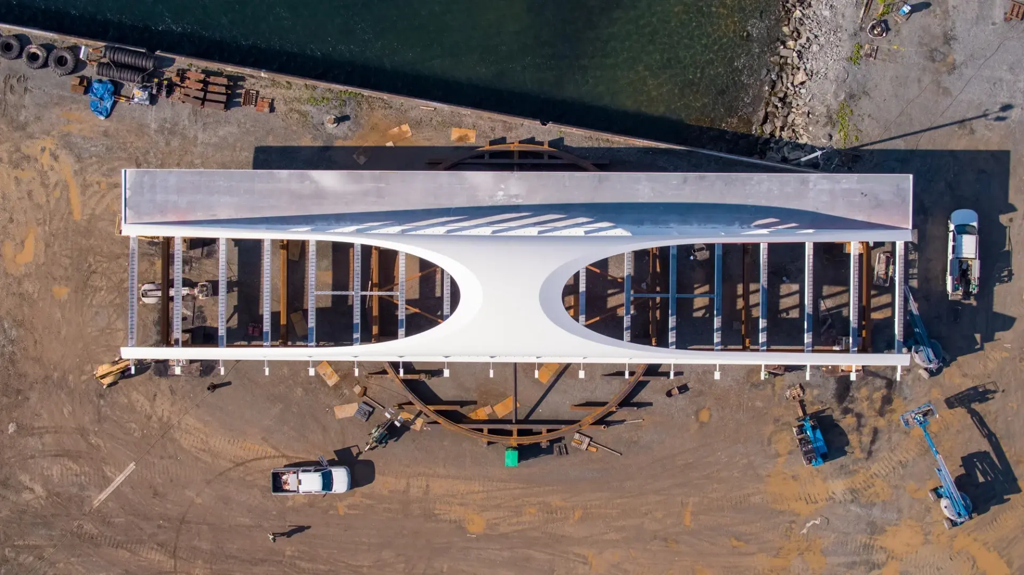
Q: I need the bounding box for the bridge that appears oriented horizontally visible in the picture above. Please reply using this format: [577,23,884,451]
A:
[115,170,917,380]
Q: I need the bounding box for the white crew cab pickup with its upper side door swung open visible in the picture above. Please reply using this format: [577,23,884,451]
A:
[270,453,352,495]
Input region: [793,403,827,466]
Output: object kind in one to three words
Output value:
work vehicle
